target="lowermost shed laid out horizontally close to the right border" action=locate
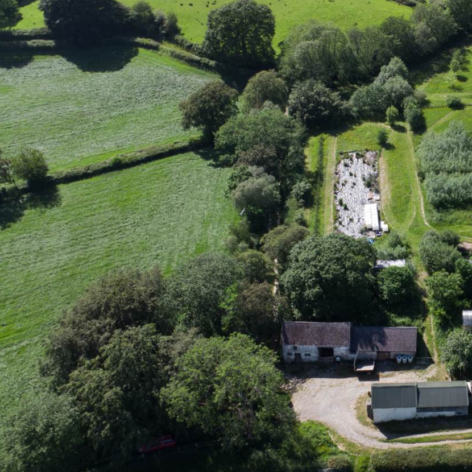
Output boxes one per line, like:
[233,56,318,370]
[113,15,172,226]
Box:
[367,379,468,422]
